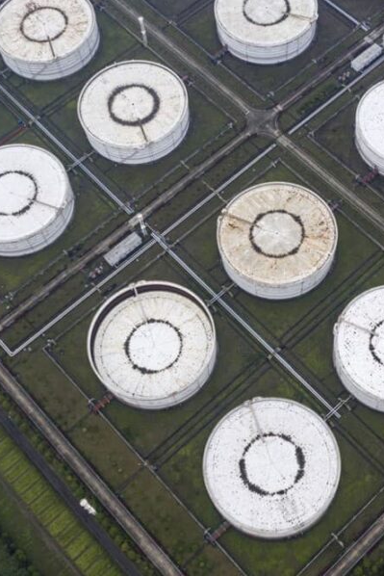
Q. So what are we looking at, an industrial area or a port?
industrial area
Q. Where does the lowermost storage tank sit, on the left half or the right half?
right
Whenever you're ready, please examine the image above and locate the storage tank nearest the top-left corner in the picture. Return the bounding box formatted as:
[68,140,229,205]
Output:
[0,0,102,81]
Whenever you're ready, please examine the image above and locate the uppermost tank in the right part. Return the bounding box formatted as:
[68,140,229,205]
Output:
[213,0,322,66]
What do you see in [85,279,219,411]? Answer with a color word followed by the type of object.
white storage tank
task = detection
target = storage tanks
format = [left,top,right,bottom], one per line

[202,395,343,543]
[75,58,192,167]
[213,0,322,66]
[85,279,219,411]
[352,79,384,178]
[0,0,102,81]
[331,283,384,414]
[0,143,77,259]
[215,180,339,302]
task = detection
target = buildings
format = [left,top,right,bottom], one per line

[350,39,384,70]
[103,229,144,265]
